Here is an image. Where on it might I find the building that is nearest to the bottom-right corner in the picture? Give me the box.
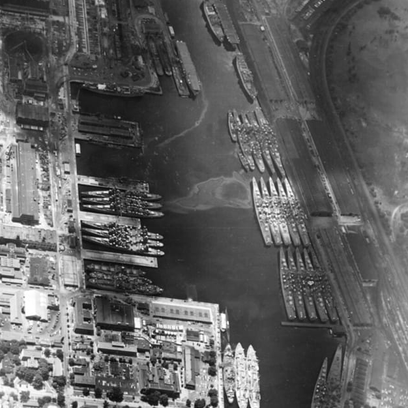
[351,360,369,403]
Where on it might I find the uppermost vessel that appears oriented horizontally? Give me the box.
[82,81,144,98]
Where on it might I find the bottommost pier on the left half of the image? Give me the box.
[81,249,158,269]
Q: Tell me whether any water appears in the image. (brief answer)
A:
Yes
